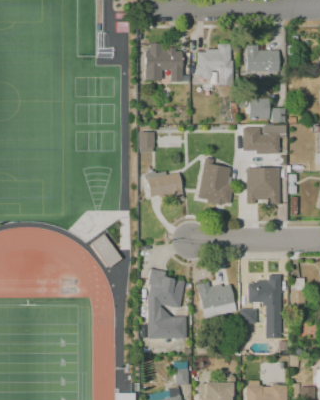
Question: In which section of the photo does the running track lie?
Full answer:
Look in the bottom left portion of the view to spot the running track.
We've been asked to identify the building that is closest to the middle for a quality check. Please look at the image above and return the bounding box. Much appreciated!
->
[144,168,182,199]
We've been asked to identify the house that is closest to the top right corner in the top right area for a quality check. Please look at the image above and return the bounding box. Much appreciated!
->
[240,45,280,76]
